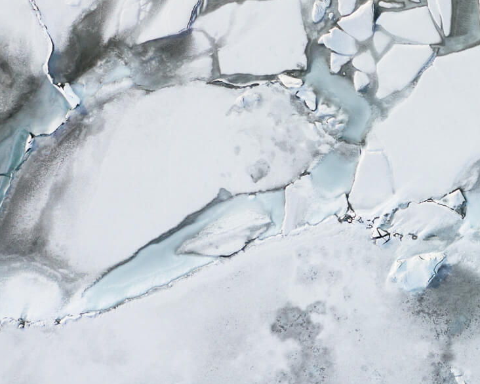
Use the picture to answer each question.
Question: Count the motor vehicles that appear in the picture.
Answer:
0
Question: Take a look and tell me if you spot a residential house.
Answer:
No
